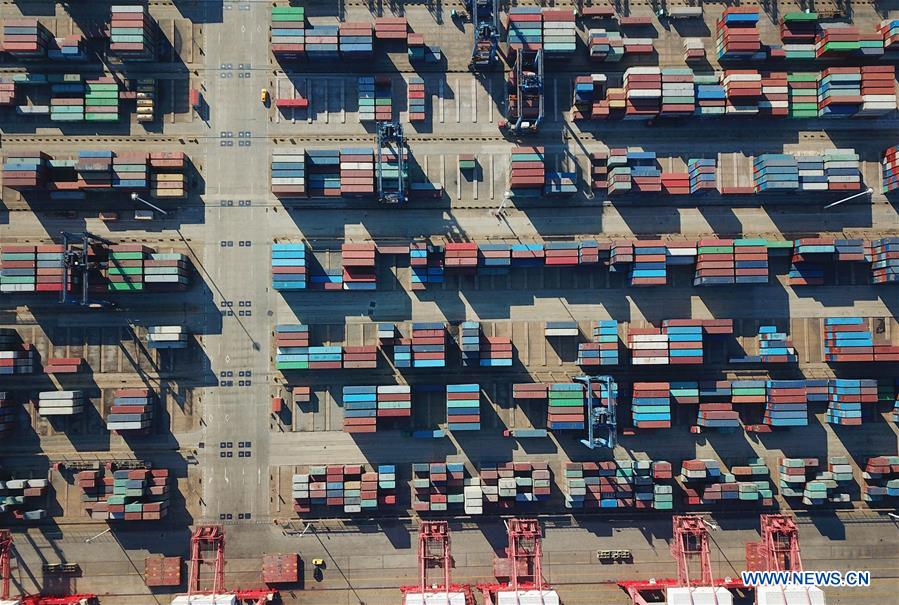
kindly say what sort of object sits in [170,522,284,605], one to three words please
container crane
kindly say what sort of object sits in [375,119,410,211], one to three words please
container crane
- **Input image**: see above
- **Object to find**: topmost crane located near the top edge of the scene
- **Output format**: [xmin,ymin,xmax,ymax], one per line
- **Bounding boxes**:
[464,0,500,68]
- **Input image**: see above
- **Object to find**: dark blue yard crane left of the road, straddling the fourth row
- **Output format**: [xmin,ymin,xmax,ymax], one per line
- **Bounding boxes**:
[59,231,120,308]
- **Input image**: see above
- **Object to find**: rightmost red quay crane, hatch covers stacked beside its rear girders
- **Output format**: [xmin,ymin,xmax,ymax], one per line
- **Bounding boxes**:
[720,514,822,605]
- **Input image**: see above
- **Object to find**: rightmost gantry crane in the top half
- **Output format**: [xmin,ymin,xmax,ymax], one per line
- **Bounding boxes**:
[505,47,544,133]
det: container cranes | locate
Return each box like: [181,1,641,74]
[59,231,120,308]
[375,119,410,211]
[170,522,284,605]
[610,515,730,605]
[505,47,544,133]
[569,373,615,445]
[464,0,500,68]
[720,514,822,605]
[470,517,558,605]
[393,519,474,605]
[0,526,103,605]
